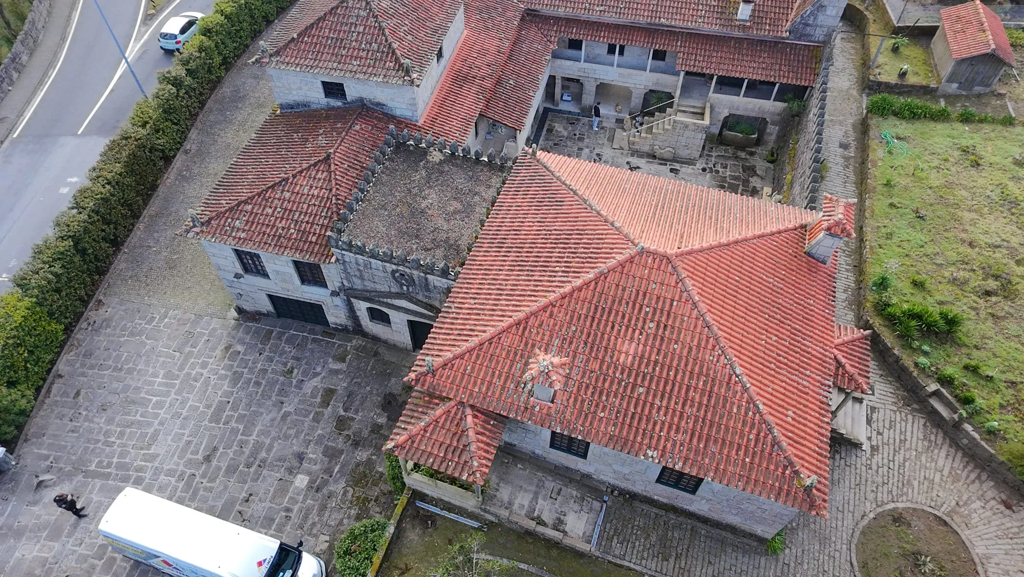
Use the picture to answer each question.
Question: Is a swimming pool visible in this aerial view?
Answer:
No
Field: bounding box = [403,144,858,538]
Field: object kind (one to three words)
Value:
house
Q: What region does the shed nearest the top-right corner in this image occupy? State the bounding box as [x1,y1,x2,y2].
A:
[929,0,1023,103]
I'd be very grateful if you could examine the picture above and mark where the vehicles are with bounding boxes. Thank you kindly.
[101,492,332,577]
[156,12,210,51]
